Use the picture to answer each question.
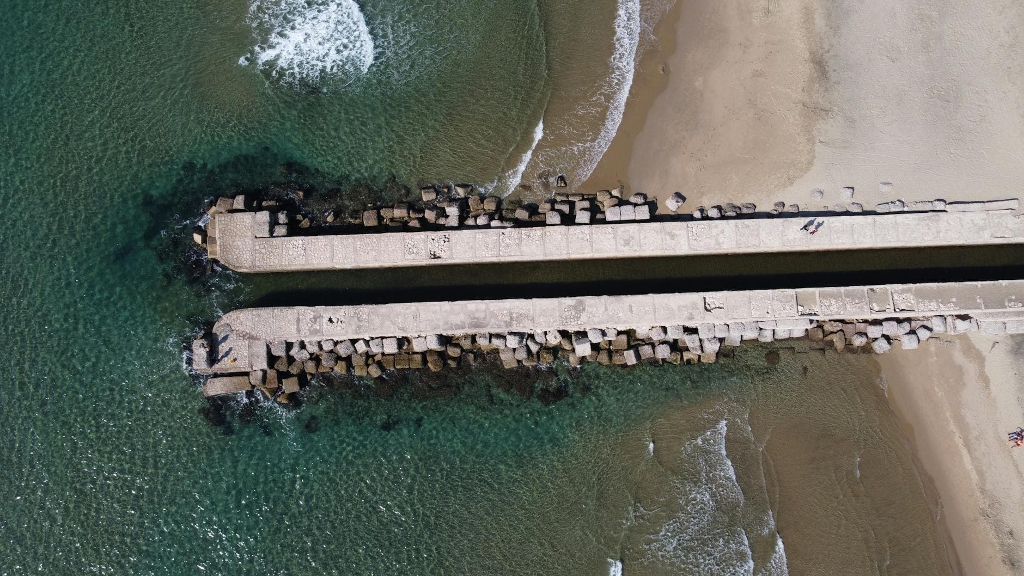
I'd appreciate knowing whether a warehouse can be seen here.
No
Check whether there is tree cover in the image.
No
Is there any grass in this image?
No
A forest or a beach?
beach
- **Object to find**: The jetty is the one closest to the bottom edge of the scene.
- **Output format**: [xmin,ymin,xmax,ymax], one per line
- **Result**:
[212,279,1024,371]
